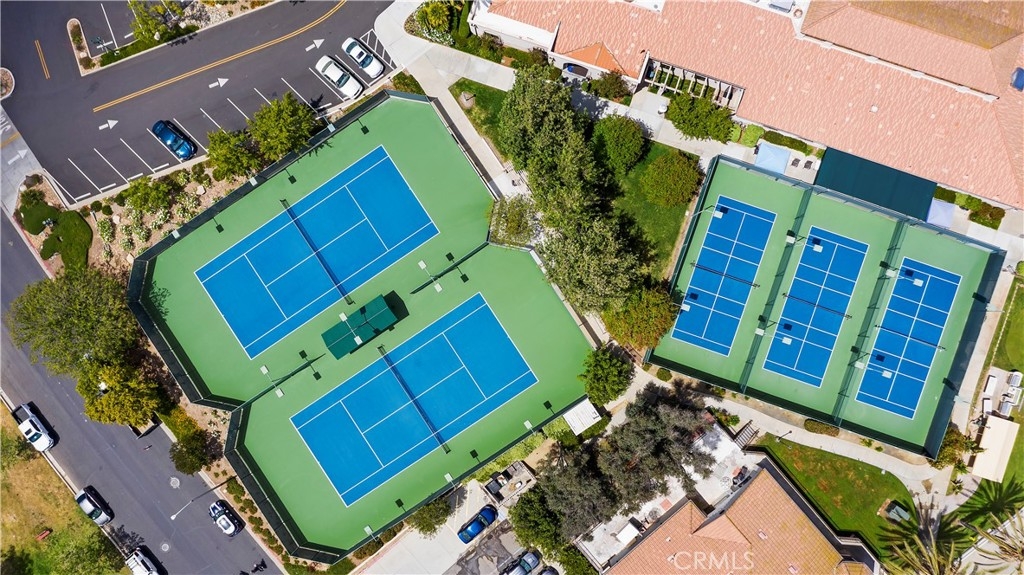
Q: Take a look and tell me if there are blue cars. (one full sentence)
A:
Yes, there's a blue car here.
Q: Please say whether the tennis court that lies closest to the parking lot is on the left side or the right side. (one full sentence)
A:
You can find the tennis court that lies closest to the parking lot on the left side of the picture.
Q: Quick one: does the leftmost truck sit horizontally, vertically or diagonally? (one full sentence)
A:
I'd say the leftmost truck is aligned diagonally in the picture.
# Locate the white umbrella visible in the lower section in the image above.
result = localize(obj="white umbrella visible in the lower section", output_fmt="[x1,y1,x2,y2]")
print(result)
[616,522,640,545]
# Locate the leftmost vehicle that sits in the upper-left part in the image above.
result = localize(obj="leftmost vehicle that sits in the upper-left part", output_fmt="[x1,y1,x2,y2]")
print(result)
[152,119,196,162]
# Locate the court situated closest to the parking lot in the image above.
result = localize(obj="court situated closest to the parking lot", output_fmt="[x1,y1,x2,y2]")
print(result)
[144,99,495,406]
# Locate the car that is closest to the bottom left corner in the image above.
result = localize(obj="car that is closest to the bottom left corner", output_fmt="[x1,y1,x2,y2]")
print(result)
[75,486,114,526]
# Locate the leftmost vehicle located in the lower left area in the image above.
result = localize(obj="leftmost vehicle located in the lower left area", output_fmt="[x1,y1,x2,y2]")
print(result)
[9,400,56,453]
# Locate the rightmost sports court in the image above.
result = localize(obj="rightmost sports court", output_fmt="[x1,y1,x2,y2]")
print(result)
[821,223,984,451]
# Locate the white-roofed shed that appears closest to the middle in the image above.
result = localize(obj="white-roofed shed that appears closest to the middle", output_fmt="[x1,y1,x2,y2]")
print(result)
[563,398,601,436]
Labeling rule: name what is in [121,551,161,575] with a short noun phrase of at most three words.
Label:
vehicle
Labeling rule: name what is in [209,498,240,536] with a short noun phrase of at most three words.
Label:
car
